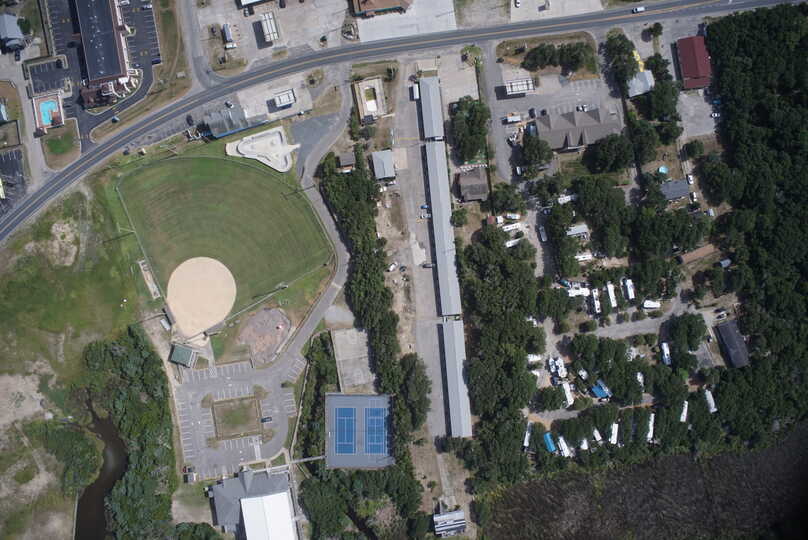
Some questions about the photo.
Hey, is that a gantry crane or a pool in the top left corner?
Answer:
pool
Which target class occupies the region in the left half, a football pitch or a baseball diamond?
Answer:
baseball diamond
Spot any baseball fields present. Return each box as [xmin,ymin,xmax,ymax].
[118,156,335,346]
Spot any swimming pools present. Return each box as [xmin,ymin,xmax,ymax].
[32,94,63,128]
[659,164,669,174]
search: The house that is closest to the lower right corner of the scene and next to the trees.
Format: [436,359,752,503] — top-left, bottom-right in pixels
[714,320,750,369]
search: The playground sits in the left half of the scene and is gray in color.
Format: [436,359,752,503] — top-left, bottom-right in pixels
[238,309,290,362]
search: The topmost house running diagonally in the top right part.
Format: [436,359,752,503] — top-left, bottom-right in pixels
[626,71,654,98]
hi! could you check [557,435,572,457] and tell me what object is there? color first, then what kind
white vehicle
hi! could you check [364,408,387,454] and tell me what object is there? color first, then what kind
blue tennis court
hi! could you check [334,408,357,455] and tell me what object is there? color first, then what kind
blue tennis court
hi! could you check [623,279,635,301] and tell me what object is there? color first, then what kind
white vehicle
